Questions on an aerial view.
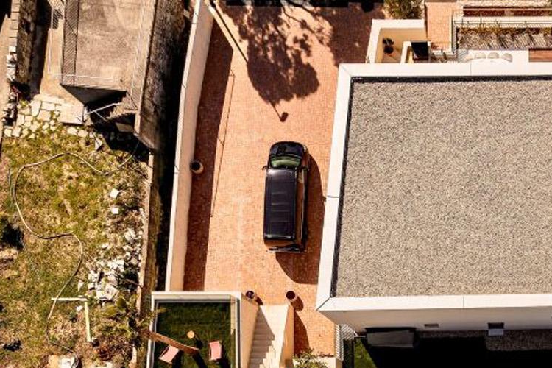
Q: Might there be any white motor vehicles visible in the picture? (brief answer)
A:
No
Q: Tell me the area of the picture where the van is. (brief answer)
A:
center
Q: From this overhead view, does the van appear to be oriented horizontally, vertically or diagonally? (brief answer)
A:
vertically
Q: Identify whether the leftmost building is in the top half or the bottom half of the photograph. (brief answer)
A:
top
